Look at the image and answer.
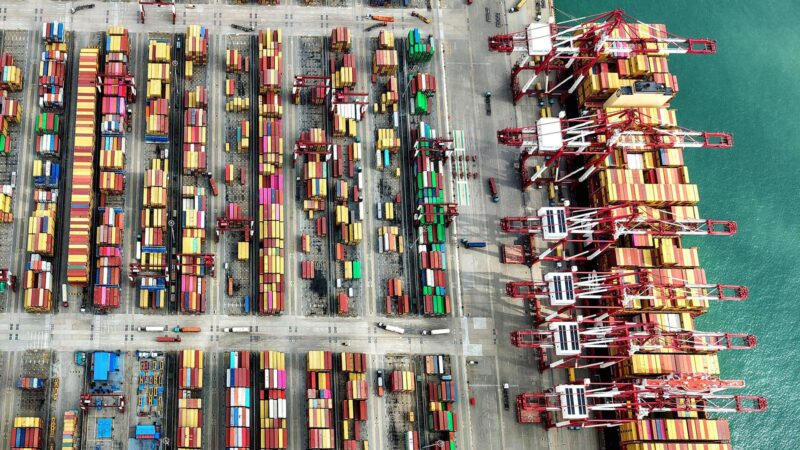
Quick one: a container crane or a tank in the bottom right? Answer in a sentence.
You can see a container crane in the bottom right.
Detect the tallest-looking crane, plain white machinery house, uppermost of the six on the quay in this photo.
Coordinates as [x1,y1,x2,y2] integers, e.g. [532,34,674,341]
[485,11,720,108]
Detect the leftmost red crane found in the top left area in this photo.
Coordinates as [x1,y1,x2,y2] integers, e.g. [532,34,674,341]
[95,80,136,109]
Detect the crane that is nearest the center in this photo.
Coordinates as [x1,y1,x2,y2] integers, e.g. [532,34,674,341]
[412,207,459,233]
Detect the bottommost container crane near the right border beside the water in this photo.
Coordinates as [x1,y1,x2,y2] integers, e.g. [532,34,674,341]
[513,371,773,441]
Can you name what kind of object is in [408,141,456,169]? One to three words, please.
crane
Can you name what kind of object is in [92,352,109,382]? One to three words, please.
building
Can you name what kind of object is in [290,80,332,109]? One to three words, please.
crane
